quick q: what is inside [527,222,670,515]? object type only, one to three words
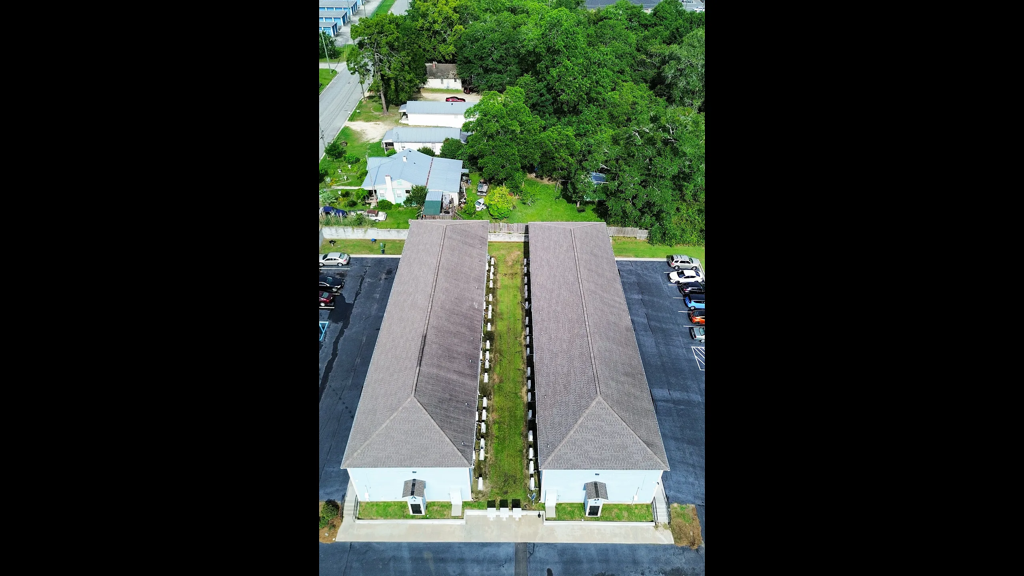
building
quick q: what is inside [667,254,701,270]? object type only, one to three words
car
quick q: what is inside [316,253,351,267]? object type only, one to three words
car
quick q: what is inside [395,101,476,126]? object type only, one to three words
house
